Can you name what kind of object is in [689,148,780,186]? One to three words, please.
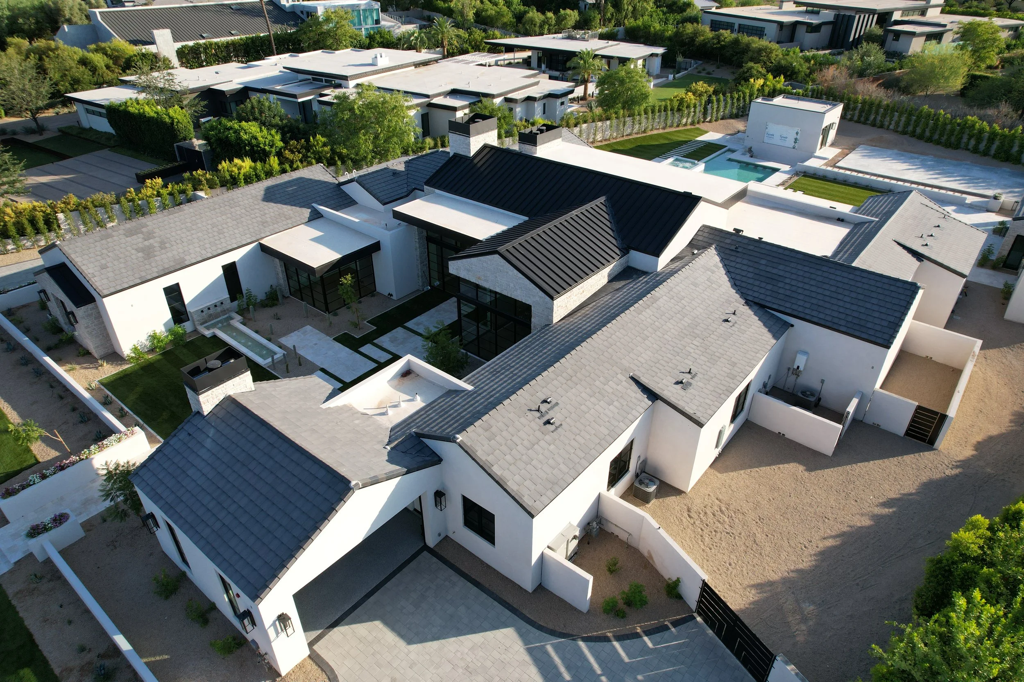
swimming pool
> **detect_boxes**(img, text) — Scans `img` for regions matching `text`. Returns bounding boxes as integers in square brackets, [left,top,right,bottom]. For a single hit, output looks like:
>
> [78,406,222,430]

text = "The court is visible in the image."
[835,145,1024,202]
